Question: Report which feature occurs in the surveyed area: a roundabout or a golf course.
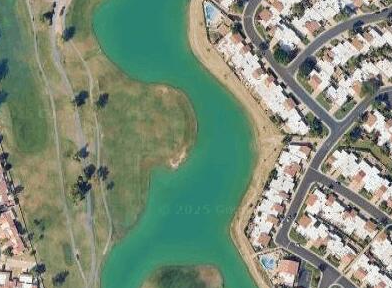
golf course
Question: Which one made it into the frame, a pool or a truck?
pool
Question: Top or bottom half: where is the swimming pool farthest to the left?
top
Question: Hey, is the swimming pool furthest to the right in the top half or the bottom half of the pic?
bottom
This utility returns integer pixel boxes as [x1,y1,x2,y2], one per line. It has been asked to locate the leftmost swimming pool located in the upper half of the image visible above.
[203,2,228,34]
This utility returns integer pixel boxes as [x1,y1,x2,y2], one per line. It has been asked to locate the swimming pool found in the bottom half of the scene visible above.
[259,252,282,272]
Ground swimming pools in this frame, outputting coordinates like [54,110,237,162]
[259,252,282,272]
[203,2,228,34]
